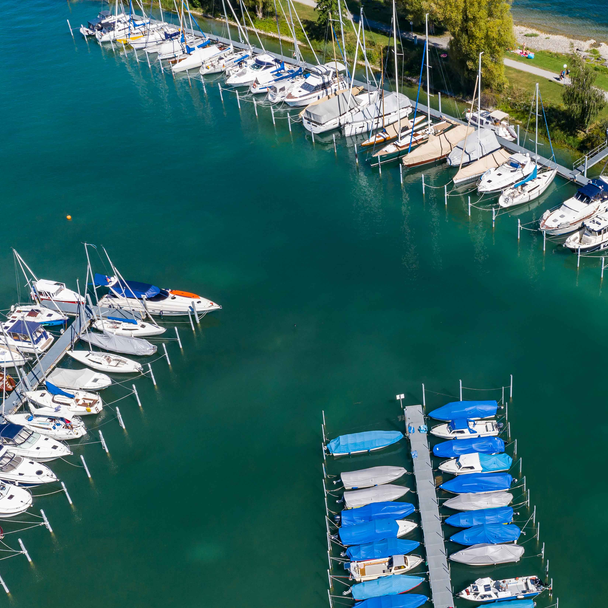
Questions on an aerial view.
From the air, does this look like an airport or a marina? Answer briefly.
marina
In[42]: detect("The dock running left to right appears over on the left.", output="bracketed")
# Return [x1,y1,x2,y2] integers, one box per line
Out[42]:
[36,303,97,319]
